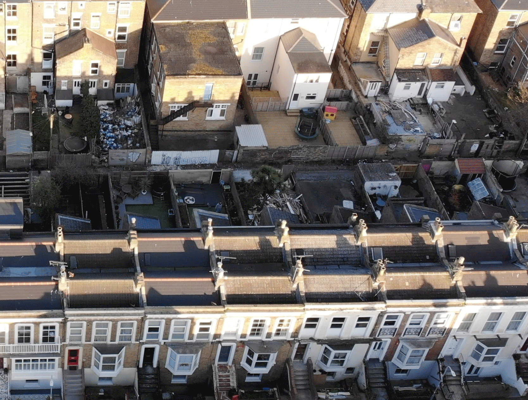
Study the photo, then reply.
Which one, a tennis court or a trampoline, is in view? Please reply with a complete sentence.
Looking from above, you can make out a trampoline.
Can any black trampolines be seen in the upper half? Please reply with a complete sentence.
Yes, a black trampoline appears in the upper half.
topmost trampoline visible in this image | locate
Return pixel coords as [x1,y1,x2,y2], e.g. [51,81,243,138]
[292,108,324,140]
